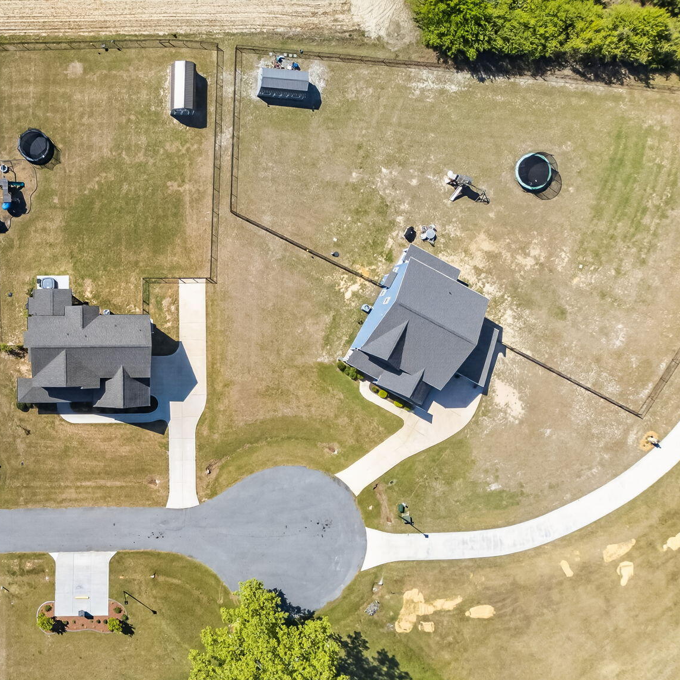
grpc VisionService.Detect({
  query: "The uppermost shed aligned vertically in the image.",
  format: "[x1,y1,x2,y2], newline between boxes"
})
[169,61,197,116]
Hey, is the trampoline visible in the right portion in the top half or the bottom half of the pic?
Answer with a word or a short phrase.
top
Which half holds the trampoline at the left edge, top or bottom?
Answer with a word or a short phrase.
top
